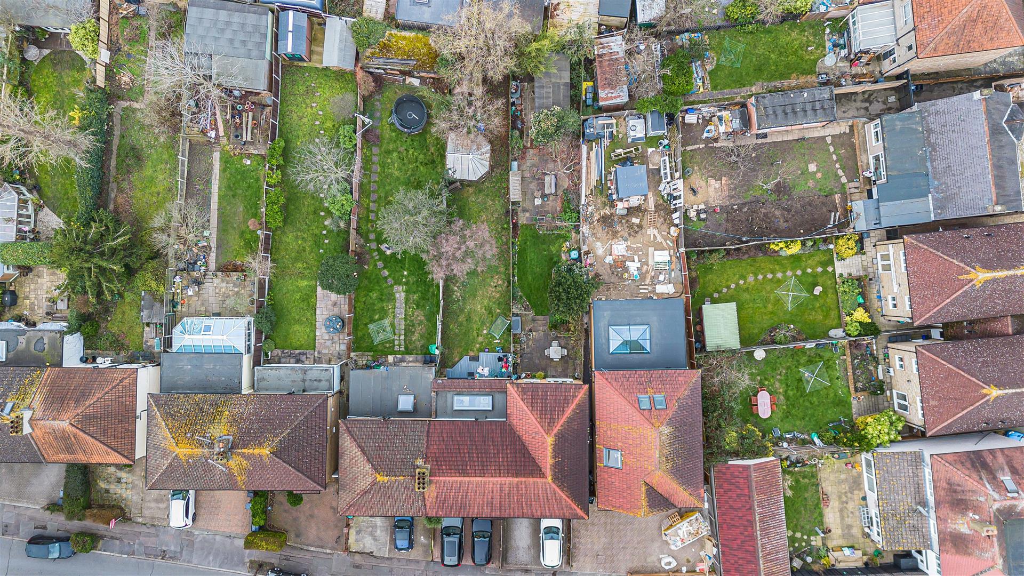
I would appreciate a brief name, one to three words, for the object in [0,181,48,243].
greenhouse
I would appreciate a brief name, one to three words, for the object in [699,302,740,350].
shed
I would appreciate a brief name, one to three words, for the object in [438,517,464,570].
car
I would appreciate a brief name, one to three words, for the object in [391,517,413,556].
car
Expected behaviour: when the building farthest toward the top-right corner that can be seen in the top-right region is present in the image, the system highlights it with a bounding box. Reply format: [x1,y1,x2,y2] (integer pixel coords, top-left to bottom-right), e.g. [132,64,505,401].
[881,0,1024,75]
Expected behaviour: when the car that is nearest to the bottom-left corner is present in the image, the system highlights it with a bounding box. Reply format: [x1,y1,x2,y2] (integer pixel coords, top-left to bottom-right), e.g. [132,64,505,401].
[17,537,71,565]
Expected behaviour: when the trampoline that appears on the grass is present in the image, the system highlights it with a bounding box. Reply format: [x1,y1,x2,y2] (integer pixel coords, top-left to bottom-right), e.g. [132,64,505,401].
[384,88,428,131]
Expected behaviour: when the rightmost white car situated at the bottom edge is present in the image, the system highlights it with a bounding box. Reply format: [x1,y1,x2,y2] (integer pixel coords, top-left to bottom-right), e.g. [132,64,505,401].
[540,518,565,570]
